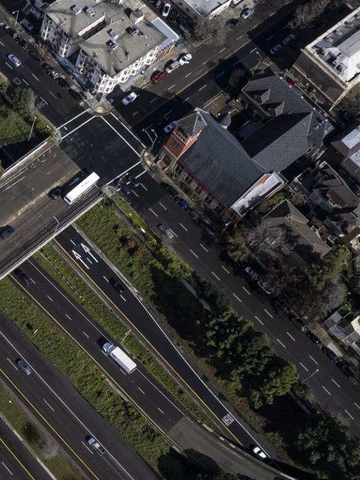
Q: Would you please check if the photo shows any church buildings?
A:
Yes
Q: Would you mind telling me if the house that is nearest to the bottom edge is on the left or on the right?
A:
right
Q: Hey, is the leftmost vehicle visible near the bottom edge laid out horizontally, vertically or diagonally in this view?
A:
diagonally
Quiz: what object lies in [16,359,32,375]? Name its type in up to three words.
car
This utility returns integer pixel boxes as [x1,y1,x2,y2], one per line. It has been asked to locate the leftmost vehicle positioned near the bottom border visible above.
[86,435,106,456]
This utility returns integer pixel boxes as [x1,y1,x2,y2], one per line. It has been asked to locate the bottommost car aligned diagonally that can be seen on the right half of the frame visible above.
[251,443,268,461]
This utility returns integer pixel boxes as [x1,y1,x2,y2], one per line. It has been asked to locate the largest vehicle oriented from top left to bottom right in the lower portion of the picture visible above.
[105,343,135,375]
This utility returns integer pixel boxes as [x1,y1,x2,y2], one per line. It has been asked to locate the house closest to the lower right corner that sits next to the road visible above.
[315,311,360,351]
